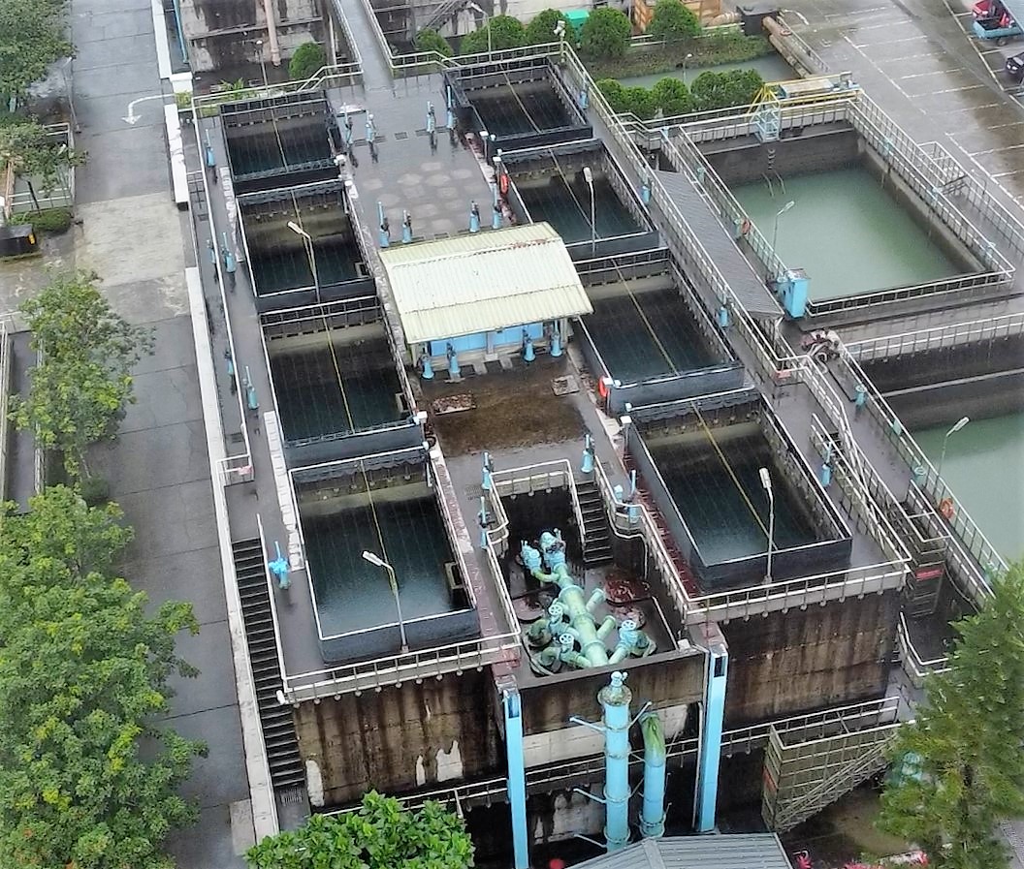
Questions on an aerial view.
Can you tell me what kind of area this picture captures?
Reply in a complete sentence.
The area seen from above is an industrial area.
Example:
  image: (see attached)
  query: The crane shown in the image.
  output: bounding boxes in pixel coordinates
[739,73,876,139]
